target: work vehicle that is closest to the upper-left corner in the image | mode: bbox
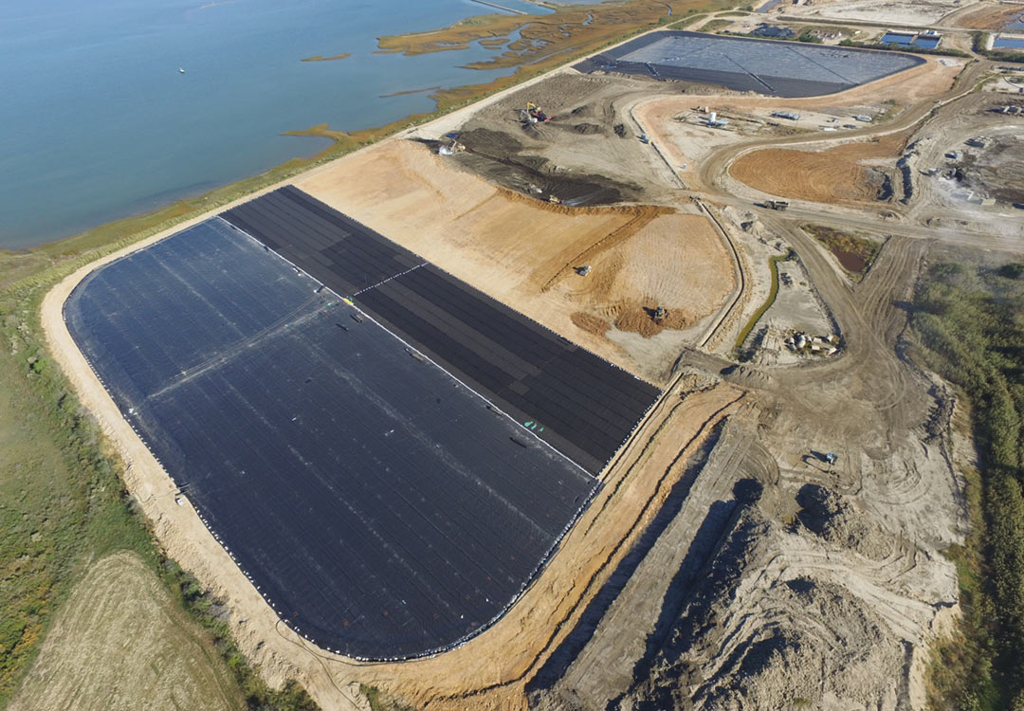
[446,136,469,151]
